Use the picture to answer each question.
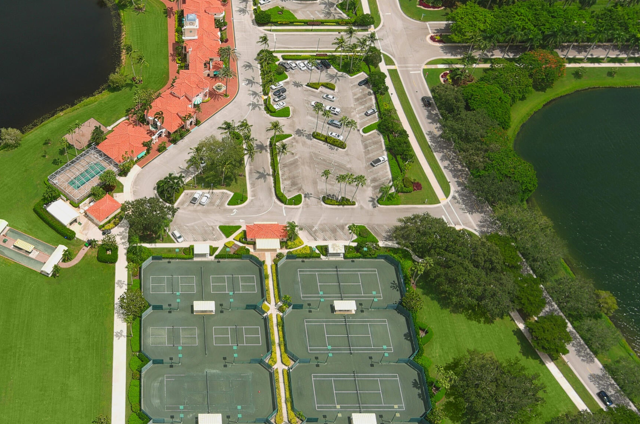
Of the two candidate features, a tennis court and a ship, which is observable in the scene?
tennis court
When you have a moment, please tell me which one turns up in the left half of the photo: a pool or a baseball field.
pool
